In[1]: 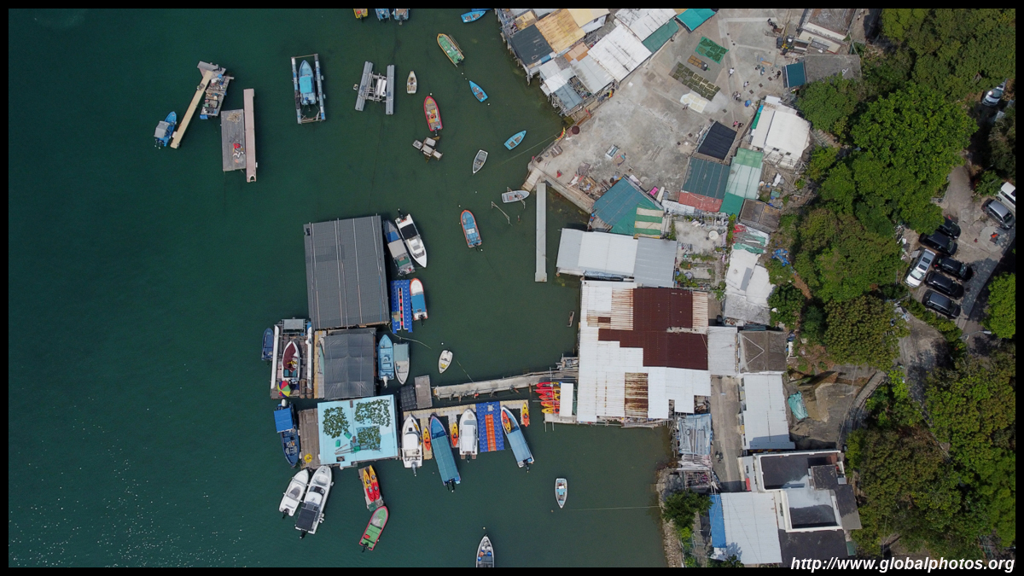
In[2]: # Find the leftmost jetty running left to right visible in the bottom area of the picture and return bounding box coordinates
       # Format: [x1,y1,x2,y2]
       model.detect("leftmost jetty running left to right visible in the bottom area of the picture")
[403,402,477,421]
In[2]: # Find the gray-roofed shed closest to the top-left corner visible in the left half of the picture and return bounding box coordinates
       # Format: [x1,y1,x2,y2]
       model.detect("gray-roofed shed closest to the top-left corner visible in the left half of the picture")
[305,215,393,331]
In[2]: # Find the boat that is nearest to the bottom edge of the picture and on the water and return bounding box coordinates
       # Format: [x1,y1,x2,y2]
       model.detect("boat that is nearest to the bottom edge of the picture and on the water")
[475,536,495,576]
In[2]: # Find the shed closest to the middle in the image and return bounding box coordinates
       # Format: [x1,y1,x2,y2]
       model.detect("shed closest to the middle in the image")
[555,228,638,277]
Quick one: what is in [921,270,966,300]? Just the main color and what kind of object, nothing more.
black car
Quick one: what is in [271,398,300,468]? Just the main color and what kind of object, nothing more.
blue boat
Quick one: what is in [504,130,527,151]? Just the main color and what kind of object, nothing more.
blue boat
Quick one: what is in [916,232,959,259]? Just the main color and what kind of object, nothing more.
black car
